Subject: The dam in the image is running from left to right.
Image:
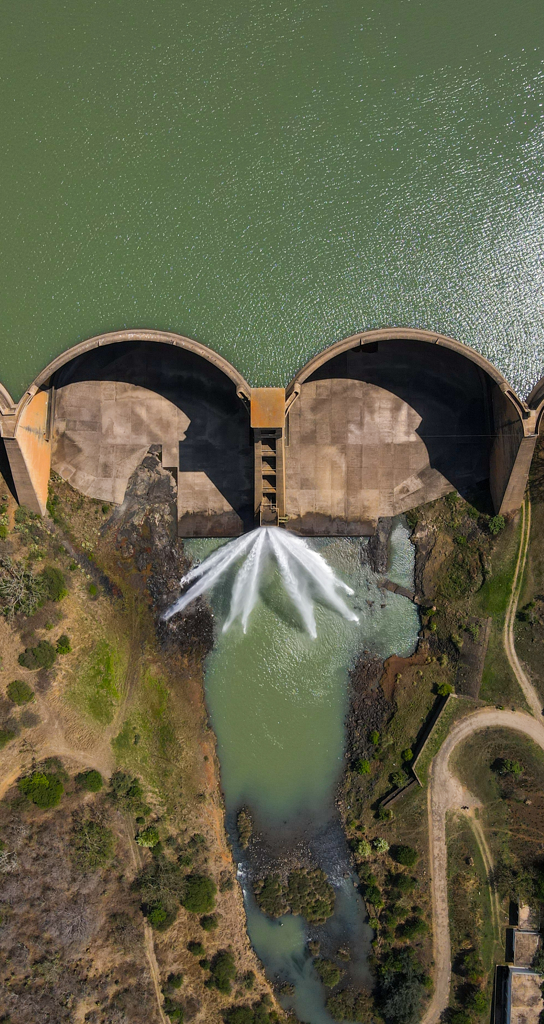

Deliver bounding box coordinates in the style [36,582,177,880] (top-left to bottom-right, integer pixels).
[0,330,544,537]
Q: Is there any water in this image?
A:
Yes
